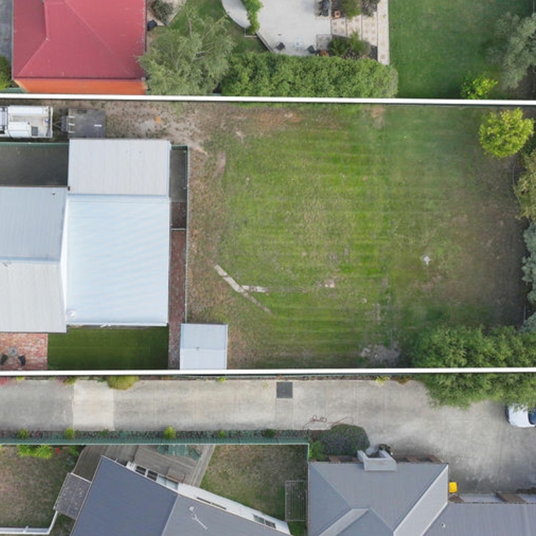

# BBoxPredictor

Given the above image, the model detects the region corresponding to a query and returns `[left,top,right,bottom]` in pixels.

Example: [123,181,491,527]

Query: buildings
[0,184,173,334]
[12,0,150,94]
[181,323,229,370]
[54,450,292,536]
[306,449,536,536]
